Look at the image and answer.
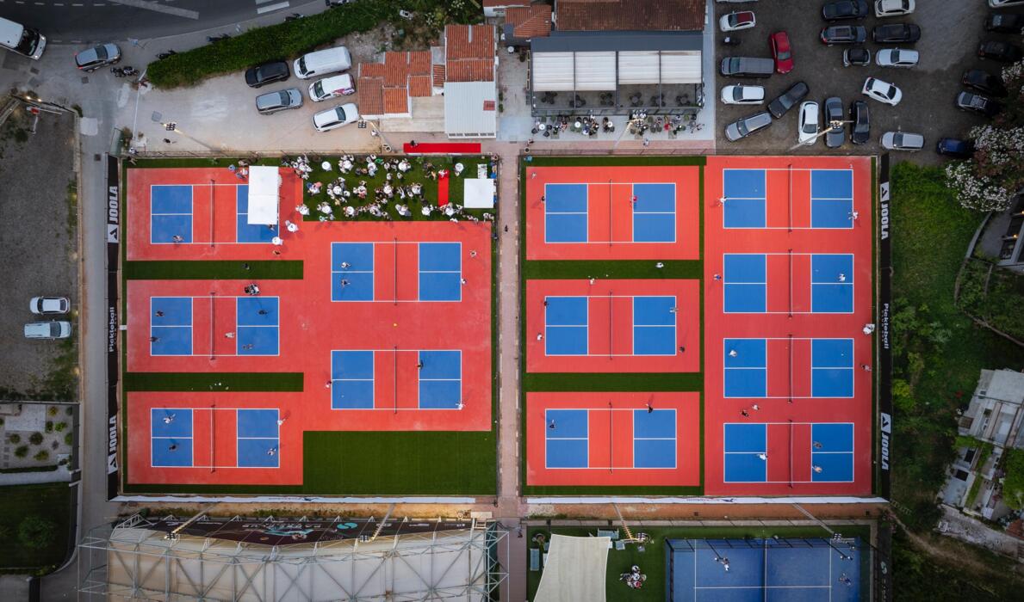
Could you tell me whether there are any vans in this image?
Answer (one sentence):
Yes, the picture does show a van.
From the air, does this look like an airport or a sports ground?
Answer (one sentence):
The area seen from above is a sports ground.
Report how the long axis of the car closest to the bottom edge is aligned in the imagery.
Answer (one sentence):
The car closest to the bottom edge is oriented from left to right.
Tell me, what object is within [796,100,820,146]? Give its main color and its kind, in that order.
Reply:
white car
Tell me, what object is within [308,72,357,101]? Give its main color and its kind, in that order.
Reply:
white van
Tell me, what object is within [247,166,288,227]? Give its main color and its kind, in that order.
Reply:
white tent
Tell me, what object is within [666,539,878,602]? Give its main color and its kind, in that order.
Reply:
blue sports court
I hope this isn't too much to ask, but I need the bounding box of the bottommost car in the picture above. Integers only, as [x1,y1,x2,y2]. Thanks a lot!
[20,319,73,341]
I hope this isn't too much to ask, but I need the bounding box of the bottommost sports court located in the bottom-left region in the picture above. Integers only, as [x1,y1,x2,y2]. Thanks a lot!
[127,391,303,485]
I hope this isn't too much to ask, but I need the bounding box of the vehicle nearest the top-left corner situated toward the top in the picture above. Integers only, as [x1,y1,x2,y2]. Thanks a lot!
[0,20,49,57]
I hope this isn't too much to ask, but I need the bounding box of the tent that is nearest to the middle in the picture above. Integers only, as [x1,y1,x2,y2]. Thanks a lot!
[465,179,494,211]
